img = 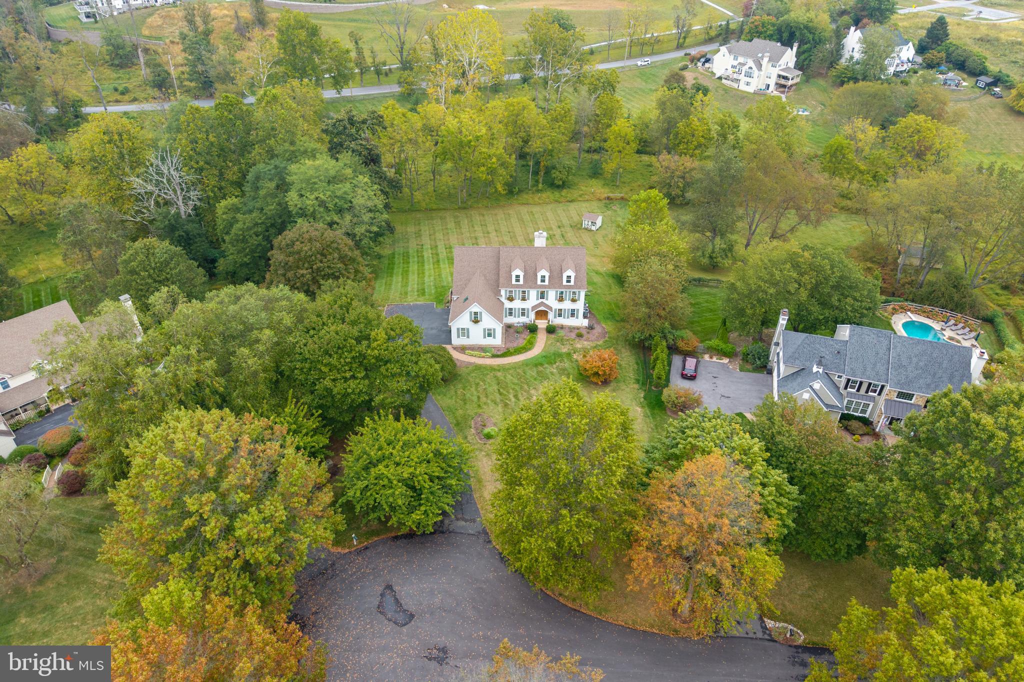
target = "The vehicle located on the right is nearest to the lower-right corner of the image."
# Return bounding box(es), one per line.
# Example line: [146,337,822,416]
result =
[682,353,700,377]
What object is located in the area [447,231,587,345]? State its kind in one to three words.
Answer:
house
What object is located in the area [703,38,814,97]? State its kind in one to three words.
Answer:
house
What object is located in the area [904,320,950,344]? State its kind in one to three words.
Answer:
swimming pool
